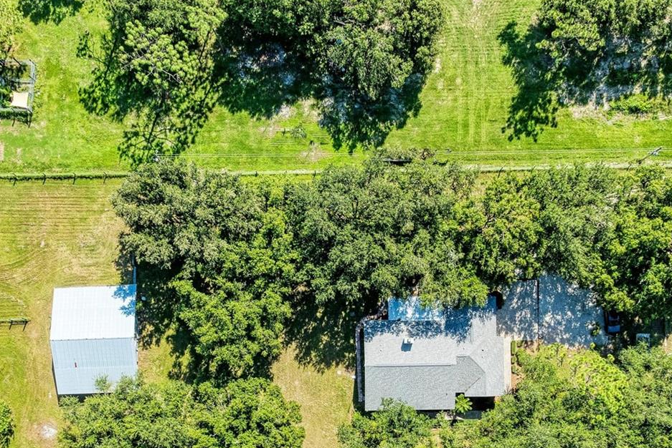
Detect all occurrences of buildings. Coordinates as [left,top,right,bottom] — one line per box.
[50,284,139,396]
[364,296,505,412]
